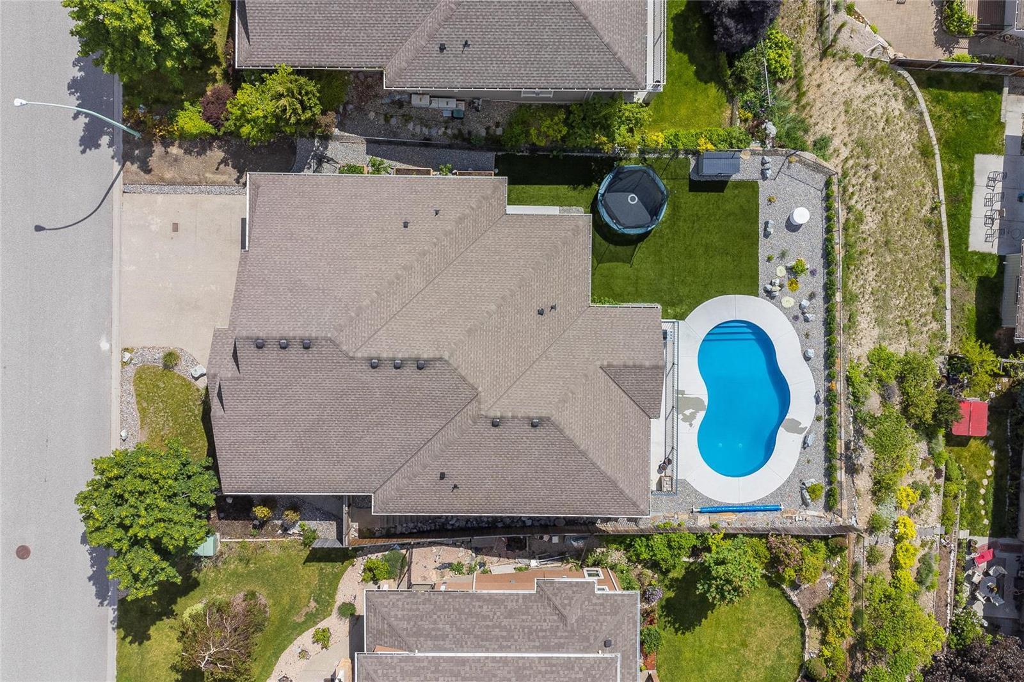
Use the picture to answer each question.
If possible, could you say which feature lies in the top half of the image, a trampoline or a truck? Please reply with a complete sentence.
What appears in the top half of the image is a trampoline.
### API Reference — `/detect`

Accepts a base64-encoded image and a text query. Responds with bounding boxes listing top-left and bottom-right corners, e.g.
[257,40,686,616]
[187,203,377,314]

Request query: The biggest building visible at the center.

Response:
[207,172,665,519]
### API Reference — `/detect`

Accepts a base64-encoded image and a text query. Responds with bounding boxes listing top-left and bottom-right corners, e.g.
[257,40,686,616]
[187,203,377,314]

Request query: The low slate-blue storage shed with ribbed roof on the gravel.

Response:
[701,149,744,174]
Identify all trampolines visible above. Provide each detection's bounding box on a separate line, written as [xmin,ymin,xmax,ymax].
[595,163,672,234]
